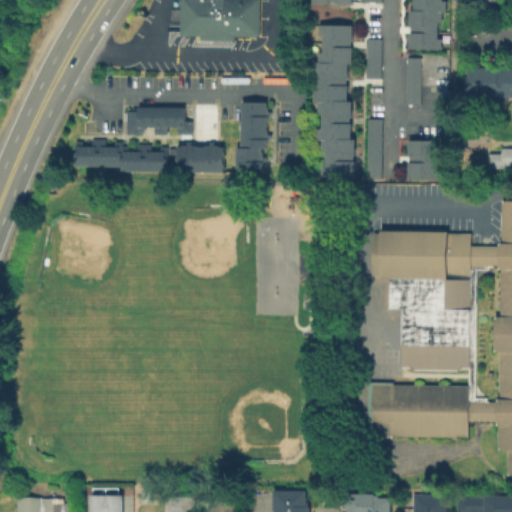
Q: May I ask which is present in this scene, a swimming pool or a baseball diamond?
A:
baseball diamond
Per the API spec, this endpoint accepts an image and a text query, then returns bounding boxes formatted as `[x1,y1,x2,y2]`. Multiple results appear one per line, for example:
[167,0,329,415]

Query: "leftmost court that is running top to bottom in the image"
[257,218,299,316]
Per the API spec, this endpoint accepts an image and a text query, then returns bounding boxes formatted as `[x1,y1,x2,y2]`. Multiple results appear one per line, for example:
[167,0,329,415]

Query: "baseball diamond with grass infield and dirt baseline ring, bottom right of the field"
[220,371,310,476]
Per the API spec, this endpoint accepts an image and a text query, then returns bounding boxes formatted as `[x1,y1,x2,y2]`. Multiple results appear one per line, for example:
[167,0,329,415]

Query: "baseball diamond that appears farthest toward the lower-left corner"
[20,432,77,475]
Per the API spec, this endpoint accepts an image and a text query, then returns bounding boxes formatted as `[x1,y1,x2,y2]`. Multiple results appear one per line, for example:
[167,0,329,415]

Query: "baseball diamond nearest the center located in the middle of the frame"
[163,200,257,293]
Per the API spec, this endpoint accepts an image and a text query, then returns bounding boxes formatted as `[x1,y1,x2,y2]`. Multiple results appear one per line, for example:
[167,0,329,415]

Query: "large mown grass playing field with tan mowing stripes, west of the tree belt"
[14,182,308,482]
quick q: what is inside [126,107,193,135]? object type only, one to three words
building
